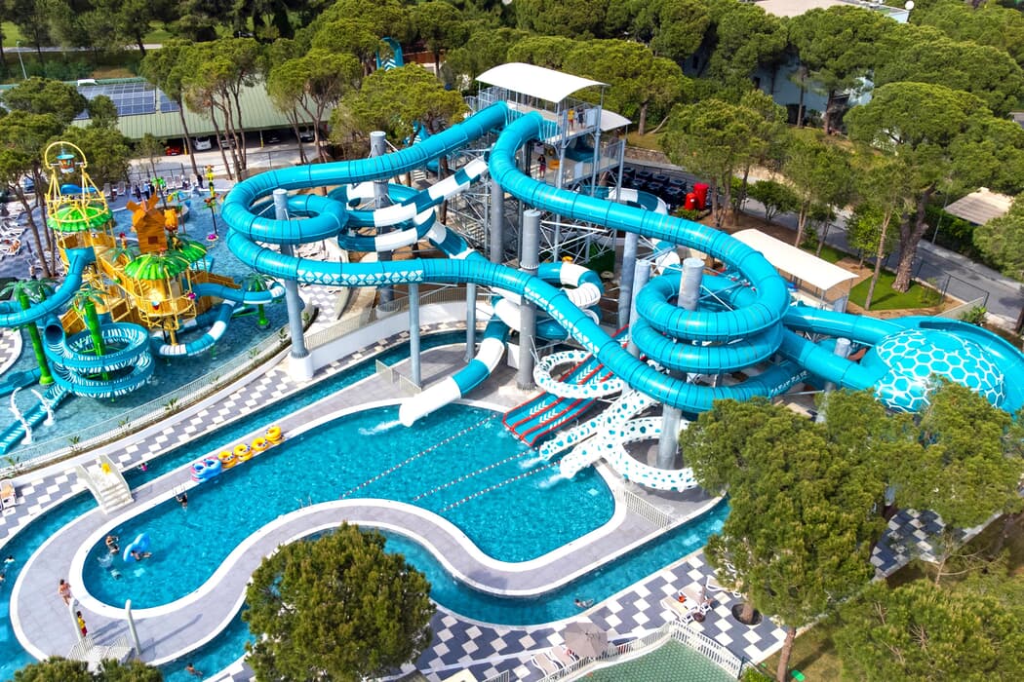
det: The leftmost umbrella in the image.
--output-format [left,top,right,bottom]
[566,619,610,671]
